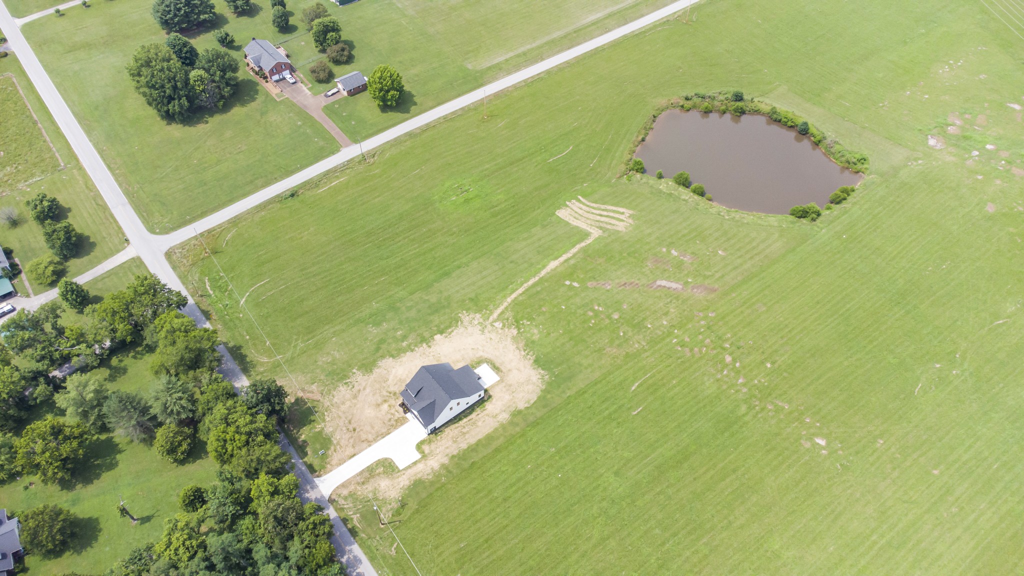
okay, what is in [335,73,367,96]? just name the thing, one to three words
building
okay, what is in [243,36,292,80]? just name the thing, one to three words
house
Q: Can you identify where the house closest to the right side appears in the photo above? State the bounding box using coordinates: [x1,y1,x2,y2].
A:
[399,363,485,434]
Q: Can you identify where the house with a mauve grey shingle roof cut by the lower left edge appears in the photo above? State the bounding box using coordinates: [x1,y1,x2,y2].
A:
[0,497,32,572]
